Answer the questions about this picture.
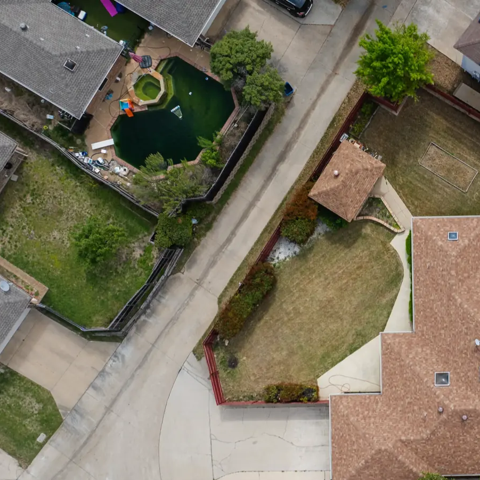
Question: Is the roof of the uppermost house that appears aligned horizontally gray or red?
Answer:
gray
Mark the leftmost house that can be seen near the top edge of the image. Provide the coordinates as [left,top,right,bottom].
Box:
[0,0,130,123]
